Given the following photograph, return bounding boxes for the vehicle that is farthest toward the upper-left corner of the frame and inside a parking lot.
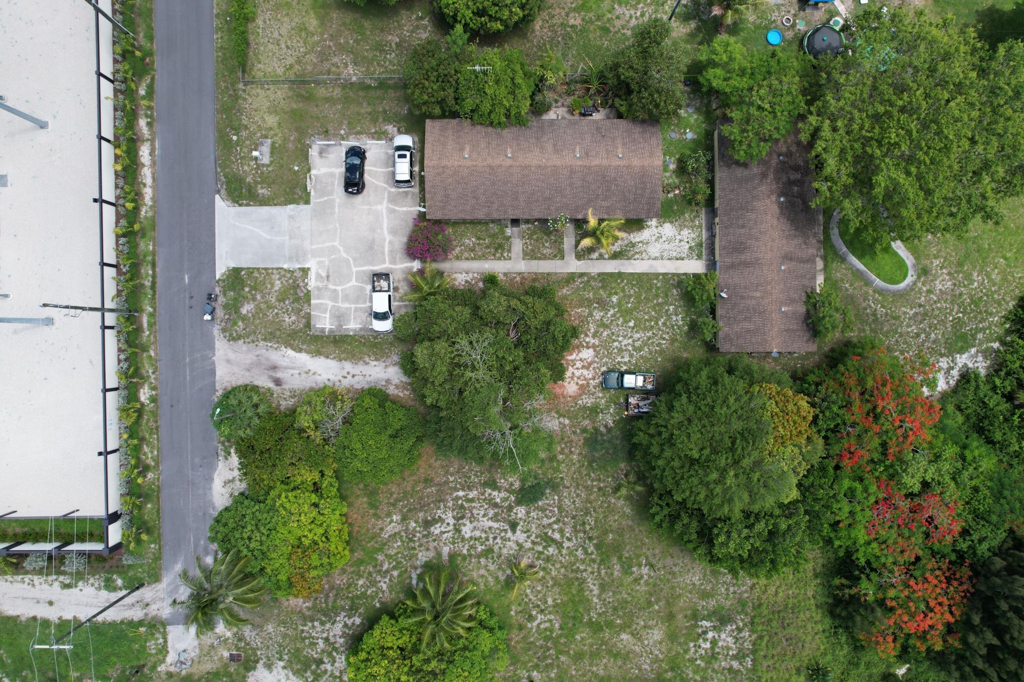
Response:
[341,146,366,192]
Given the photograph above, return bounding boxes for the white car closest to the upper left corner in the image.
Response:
[391,134,416,187]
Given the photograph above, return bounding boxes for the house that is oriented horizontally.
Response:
[424,118,663,220]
